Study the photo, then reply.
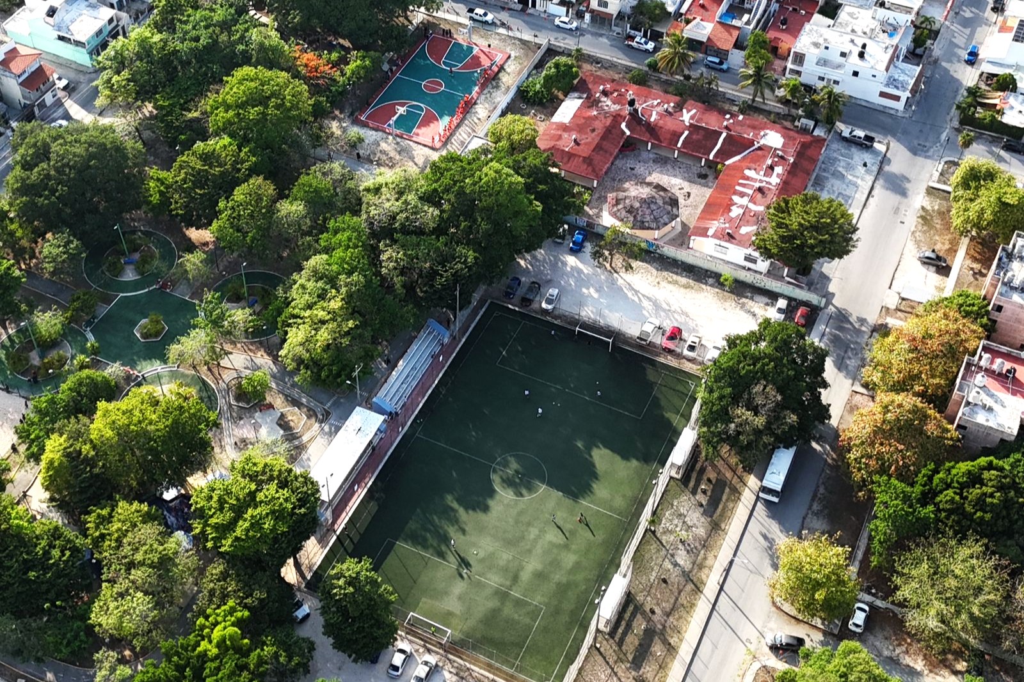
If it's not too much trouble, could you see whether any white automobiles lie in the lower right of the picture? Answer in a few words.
Yes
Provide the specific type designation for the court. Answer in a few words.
basketball court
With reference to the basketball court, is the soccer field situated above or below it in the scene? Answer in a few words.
below it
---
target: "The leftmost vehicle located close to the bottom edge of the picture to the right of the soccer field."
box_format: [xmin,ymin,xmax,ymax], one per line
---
[765,628,806,652]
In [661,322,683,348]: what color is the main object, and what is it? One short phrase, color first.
red car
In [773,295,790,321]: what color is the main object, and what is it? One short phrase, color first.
white car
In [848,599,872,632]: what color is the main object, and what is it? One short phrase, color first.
white car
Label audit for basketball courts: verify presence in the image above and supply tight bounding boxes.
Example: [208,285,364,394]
[349,29,511,150]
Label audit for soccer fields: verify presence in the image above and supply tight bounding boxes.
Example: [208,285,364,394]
[308,301,705,682]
